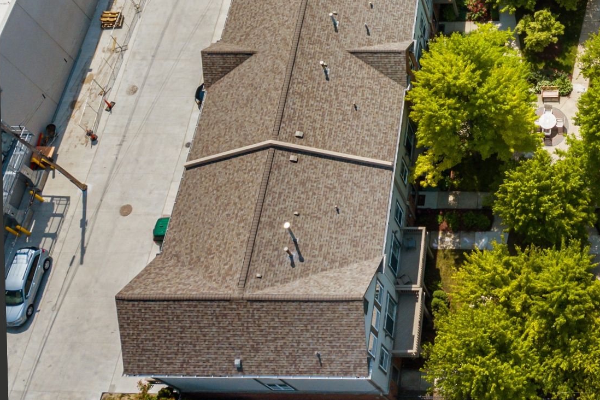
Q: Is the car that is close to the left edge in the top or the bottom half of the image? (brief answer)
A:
bottom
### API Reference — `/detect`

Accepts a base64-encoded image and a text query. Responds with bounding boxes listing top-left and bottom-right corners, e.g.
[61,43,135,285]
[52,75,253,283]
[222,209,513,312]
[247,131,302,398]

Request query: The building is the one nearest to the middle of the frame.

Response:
[108,0,459,400]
